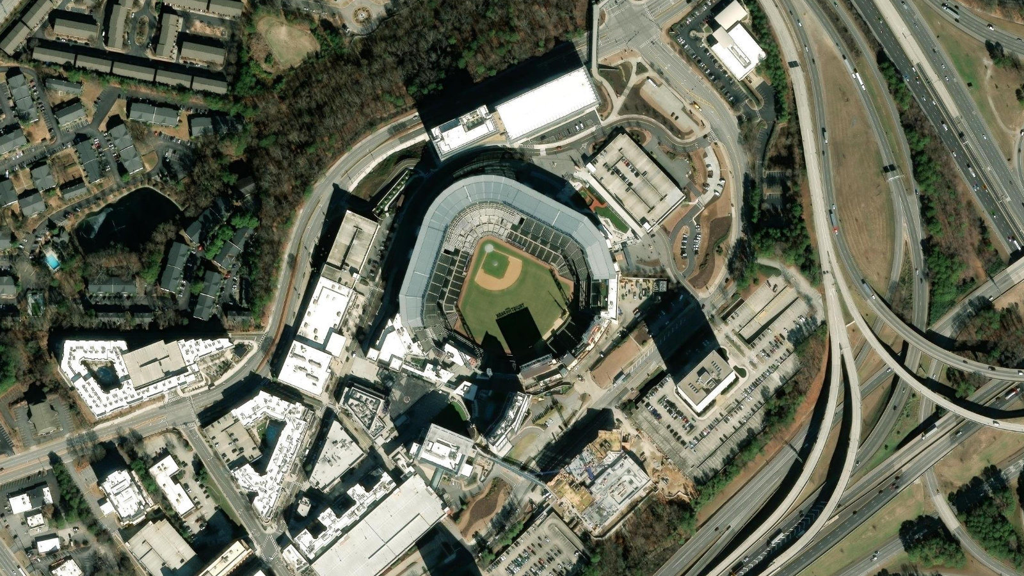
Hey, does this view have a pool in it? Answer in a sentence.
Yes, the picture does show a pool.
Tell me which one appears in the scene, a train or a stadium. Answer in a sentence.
This aerial view contains a stadium.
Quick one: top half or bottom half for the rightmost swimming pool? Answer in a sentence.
Seen from above, the rightmost swimming pool lies in the bottom half of the view.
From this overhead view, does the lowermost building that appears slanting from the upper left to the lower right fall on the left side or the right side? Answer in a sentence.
You can find the lowermost building that appears slanting from the upper left to the lower right on the left side of the picture.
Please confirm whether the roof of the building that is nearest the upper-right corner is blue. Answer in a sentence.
No, the roof of the building that is nearest the upper-right corner is actually white.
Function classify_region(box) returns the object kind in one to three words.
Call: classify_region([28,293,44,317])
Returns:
greenhouse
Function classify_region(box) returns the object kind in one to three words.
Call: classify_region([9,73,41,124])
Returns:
house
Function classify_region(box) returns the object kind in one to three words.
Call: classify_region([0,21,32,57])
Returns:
house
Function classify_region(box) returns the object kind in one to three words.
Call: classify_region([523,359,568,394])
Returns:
building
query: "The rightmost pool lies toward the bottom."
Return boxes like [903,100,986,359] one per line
[264,422,284,455]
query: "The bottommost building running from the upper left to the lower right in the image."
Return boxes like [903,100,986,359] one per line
[283,544,309,572]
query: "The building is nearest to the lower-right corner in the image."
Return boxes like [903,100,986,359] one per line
[678,350,735,411]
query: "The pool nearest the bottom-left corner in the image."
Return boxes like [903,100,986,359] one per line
[97,365,113,381]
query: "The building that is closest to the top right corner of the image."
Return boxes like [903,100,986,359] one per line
[711,0,766,79]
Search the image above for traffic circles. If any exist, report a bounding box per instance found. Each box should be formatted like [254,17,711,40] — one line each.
[344,0,381,35]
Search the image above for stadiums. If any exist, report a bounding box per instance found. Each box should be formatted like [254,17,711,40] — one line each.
[399,159,616,361]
